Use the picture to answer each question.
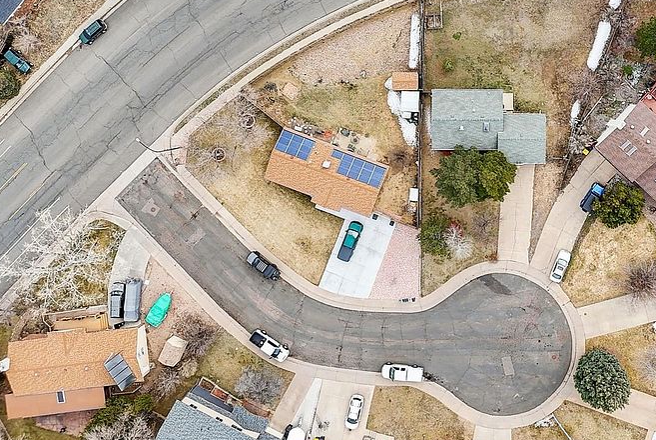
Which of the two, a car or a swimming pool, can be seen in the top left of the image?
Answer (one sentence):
It is a car that can be seen in the top left of the image.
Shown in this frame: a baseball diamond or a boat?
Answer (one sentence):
Looking from above, you can make out a boat.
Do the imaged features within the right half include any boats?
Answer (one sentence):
No, the scene shows no boat within the right half.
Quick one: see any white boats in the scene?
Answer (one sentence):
No, I can't see a single white boat in this photo.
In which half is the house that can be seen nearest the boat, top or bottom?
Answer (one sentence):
It is in the bottom half that the house that can be seen nearest the boat appears.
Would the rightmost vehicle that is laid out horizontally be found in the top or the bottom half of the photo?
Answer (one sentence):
The rightmost vehicle that is laid out horizontally is in the bottom half of the image.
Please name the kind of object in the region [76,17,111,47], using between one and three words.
car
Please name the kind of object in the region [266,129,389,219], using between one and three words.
house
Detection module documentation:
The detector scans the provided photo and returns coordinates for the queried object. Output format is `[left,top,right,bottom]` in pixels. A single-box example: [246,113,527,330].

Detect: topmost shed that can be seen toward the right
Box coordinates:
[391,72,420,89]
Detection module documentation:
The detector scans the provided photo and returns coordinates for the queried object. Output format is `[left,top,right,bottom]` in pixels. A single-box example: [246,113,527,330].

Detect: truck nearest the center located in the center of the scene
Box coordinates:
[335,220,364,265]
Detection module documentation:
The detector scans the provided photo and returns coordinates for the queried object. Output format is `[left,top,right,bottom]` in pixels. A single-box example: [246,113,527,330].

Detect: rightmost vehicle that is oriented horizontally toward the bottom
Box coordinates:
[381,362,425,383]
